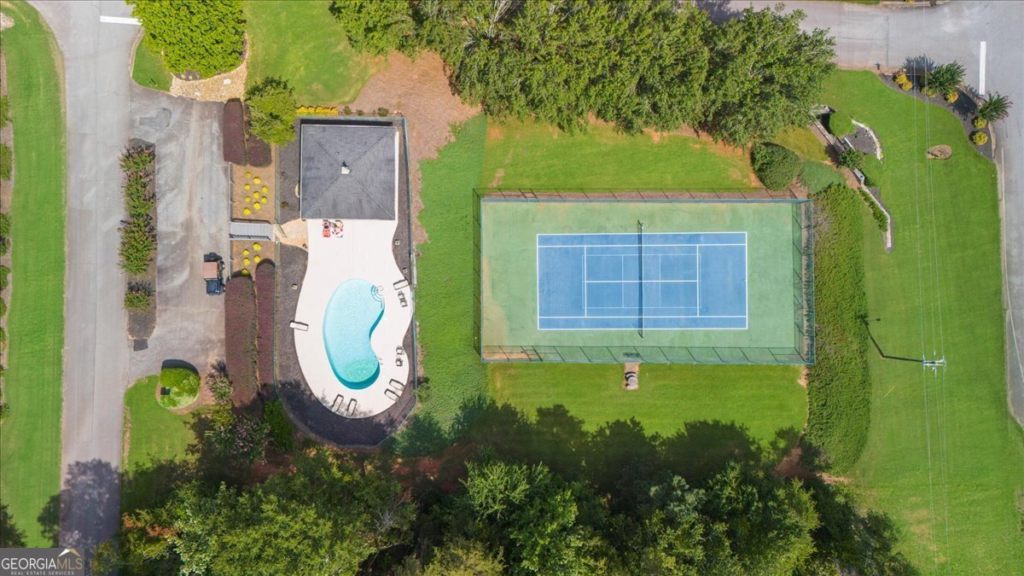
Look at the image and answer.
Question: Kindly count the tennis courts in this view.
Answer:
1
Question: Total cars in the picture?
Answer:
one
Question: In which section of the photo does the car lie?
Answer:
left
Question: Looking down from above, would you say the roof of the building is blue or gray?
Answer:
gray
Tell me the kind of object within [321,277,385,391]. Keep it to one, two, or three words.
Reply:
swimming pool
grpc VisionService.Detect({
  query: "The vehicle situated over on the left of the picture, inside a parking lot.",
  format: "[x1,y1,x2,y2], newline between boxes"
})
[206,259,229,297]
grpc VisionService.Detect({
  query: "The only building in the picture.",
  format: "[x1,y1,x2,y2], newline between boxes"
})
[300,124,397,221]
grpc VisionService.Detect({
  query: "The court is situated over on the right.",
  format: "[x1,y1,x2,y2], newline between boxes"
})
[483,203,802,361]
